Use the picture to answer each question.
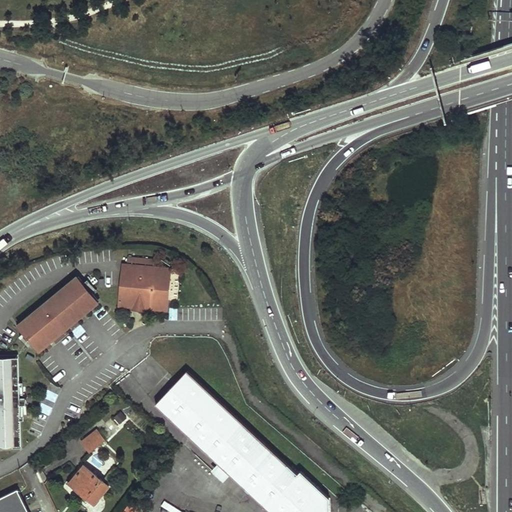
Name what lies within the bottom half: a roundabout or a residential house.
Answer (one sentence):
There is a residential house within the bottom half.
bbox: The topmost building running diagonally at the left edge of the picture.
[16,276,98,354]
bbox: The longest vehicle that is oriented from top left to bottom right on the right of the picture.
[344,427,364,446]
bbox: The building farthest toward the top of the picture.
[117,254,170,312]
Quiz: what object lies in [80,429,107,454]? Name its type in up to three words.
house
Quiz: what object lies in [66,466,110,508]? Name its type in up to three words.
house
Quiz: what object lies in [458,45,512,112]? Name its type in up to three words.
bridge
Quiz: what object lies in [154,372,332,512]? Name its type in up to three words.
warehouse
